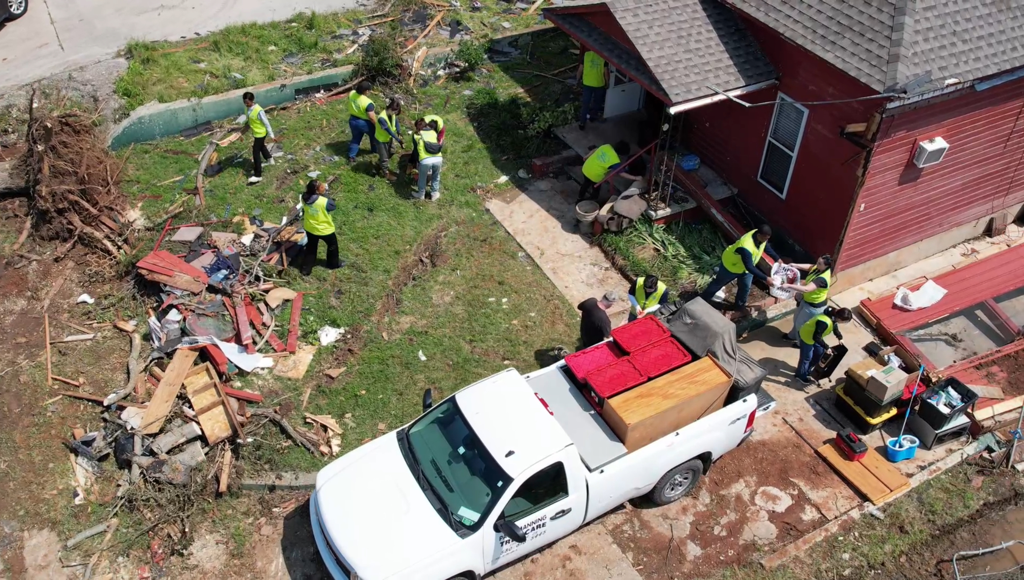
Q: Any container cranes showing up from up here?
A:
No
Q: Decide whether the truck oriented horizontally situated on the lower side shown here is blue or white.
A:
white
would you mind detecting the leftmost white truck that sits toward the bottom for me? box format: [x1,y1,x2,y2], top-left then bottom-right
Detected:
[305,340,777,580]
